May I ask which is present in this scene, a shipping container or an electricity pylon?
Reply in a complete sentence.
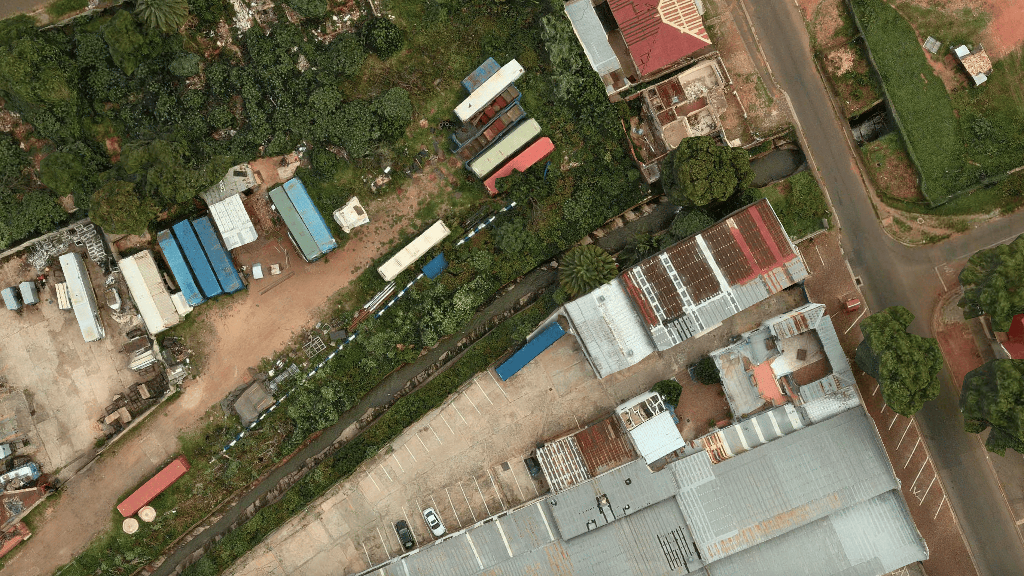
The image shows a shipping container.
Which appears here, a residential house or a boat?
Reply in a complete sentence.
The one in the frame is a residential house.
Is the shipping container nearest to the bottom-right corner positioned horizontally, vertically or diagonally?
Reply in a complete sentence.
The shipping container nearest to the bottom-right corner is oriented diagonally.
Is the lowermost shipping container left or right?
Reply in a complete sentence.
The lowermost shipping container is on the left side of the image.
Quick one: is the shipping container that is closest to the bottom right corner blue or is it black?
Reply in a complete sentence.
In this view, the shipping container that is closest to the bottom right corner is blue.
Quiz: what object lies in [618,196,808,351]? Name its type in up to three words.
building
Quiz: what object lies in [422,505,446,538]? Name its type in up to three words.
car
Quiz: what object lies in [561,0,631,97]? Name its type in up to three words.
shed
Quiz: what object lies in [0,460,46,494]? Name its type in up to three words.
truck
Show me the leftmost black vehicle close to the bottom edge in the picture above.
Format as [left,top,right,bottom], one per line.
[396,518,415,550]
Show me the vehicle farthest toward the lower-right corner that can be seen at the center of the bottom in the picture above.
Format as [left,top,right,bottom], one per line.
[524,454,542,479]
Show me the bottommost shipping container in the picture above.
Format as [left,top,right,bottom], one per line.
[117,456,190,517]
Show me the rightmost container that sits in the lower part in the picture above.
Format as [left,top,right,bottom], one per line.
[495,320,564,380]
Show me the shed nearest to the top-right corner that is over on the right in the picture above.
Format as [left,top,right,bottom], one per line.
[949,45,993,87]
